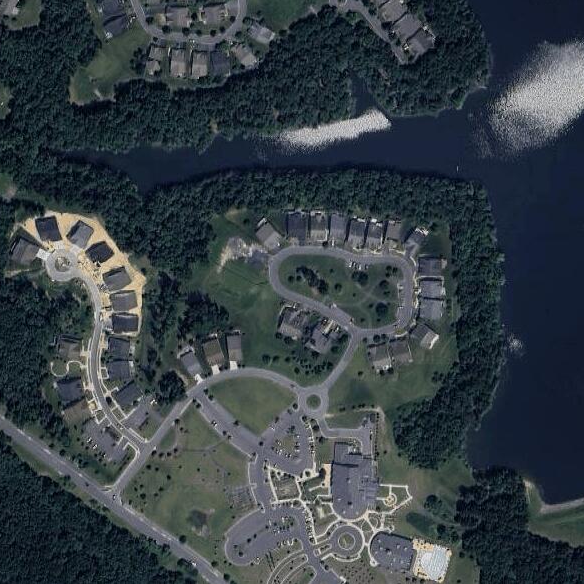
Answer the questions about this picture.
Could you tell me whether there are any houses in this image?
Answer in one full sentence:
Yes, there is a house in the image.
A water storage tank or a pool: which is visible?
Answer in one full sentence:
This aerial view contains a pool.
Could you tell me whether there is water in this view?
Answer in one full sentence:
Yes, water shows up in the scene.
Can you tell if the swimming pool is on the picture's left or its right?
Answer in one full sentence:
The swimming pool is on the right side of the image.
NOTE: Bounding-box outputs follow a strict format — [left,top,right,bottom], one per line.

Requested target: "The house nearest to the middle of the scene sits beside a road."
[277,302,312,339]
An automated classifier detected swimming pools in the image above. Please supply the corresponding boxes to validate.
[414,539,451,583]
